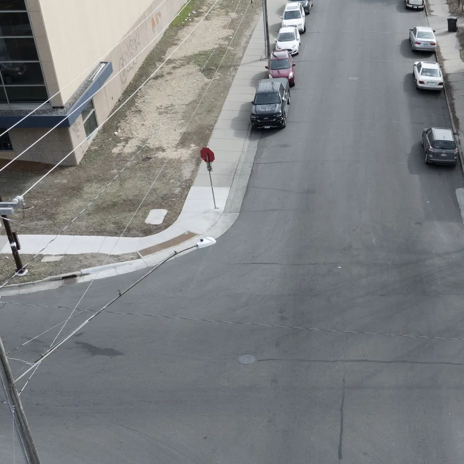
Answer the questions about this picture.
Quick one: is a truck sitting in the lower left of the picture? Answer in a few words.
No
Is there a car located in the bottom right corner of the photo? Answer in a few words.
No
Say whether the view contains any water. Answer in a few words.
No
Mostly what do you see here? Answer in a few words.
paved ground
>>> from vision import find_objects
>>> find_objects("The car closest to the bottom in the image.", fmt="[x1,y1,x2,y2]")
[419,123,460,165]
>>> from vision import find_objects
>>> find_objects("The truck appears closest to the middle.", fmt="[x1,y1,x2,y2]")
[249,81,291,129]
